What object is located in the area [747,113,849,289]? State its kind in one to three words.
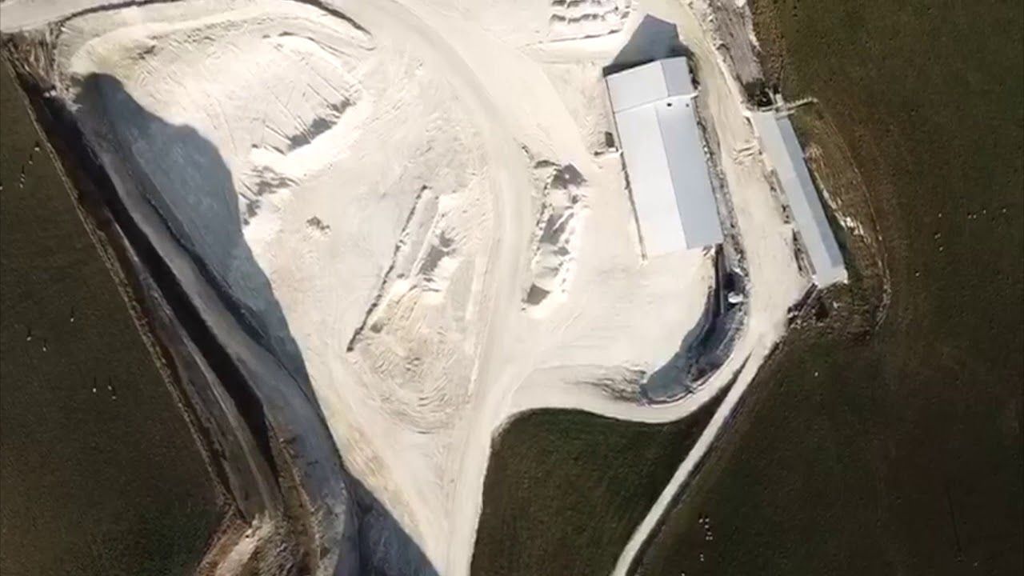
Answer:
shed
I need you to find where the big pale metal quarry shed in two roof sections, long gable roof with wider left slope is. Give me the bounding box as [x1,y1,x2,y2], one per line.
[605,56,723,259]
